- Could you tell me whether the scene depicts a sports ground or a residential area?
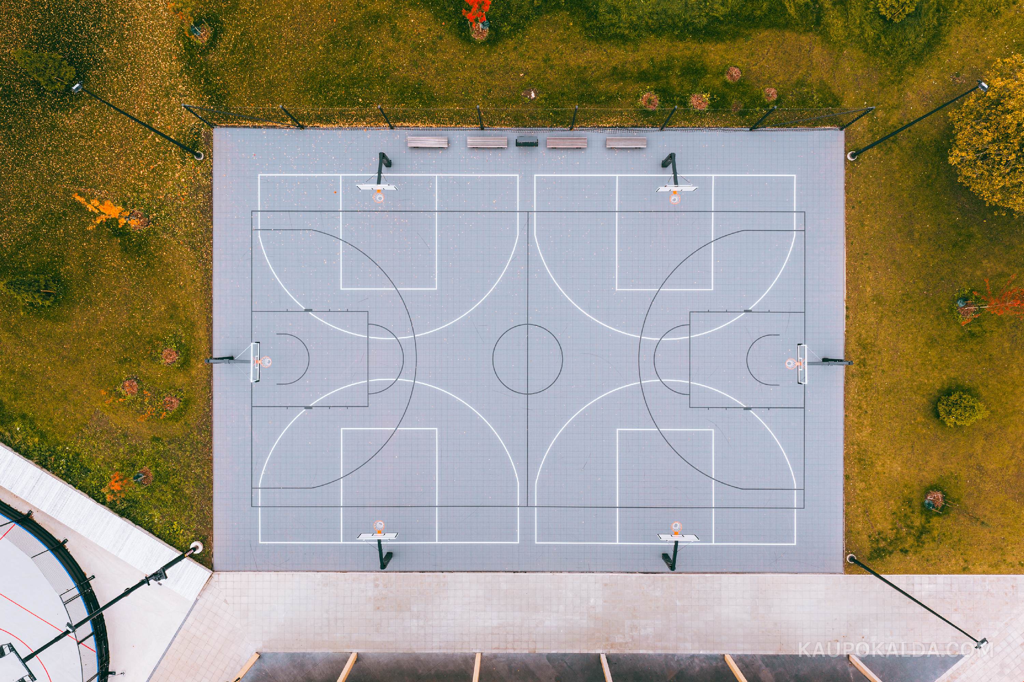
sports ground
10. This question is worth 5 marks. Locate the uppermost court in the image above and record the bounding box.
[211,126,846,574]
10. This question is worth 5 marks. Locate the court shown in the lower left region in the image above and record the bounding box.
[0,501,116,682]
